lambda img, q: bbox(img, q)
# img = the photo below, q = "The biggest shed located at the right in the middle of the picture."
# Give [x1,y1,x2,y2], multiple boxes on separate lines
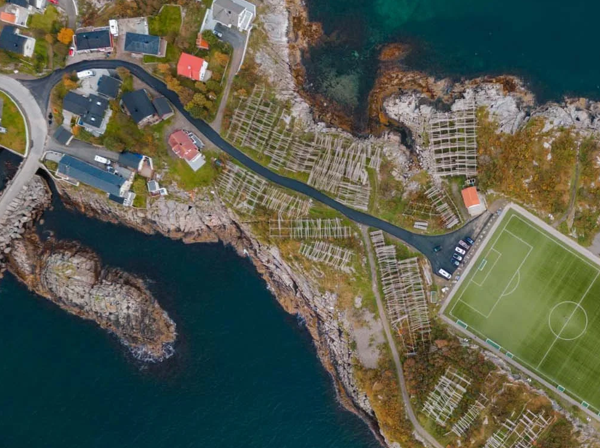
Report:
[461,186,489,218]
